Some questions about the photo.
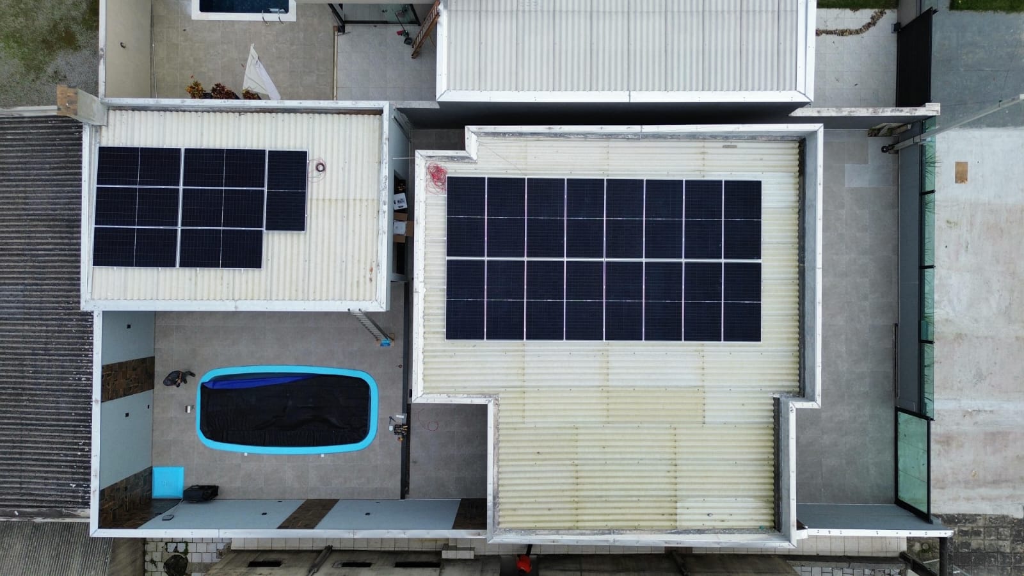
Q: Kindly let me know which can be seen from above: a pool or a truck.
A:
pool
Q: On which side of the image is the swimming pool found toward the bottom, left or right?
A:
left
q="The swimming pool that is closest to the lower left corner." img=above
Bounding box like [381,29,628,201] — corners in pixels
[197,364,379,455]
